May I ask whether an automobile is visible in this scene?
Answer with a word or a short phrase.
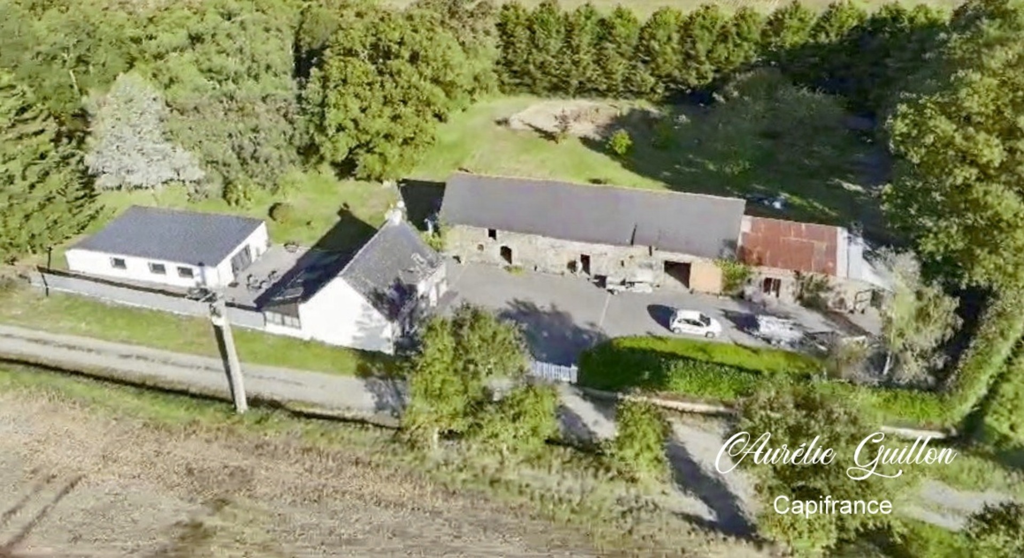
Yes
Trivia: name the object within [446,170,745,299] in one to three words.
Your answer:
barn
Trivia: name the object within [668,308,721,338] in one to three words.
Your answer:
car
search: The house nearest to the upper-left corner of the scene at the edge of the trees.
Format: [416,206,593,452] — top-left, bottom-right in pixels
[57,203,265,288]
